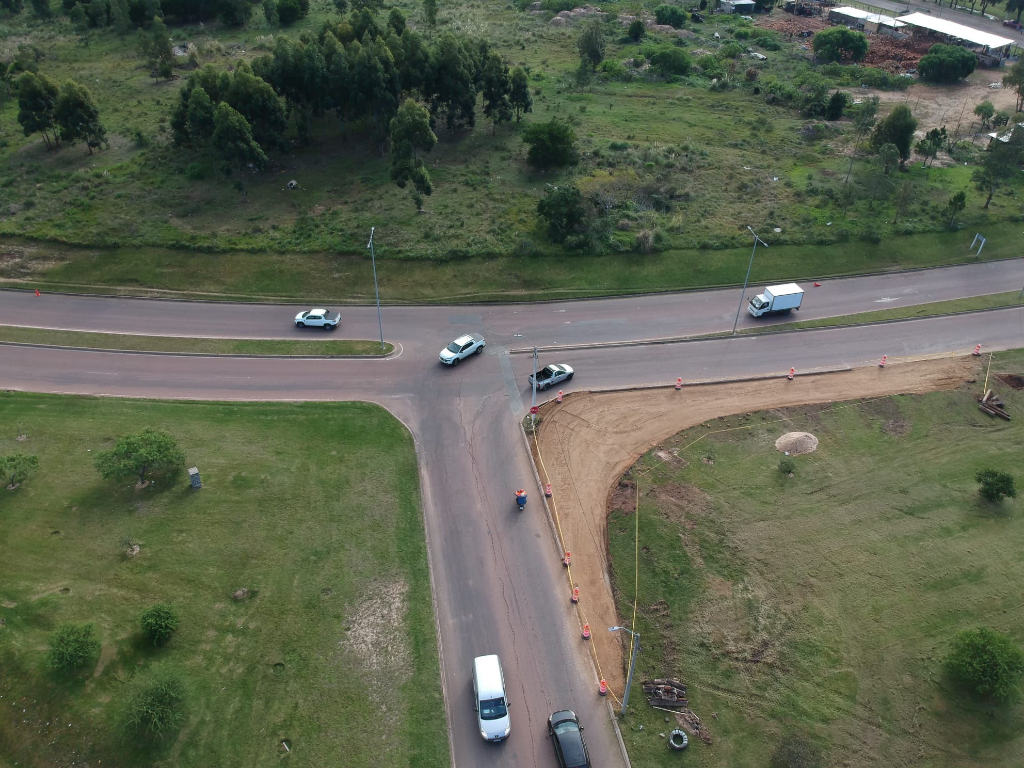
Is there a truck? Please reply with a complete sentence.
Yes, a truck appears in the view.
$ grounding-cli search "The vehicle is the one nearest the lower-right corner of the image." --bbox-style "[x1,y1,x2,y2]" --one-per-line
[549,710,592,768]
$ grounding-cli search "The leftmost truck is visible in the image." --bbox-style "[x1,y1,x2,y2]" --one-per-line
[294,308,340,330]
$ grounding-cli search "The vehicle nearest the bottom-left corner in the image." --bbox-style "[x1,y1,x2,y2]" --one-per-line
[471,655,512,743]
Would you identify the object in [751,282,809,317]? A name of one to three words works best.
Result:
truck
